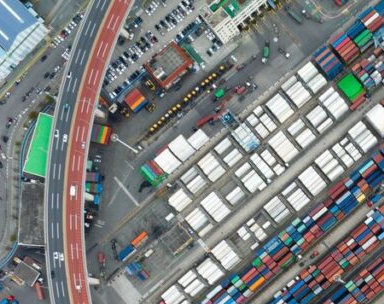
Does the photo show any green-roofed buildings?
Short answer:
Yes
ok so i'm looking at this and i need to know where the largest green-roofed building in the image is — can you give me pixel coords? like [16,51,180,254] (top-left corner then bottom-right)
[23,113,57,178]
